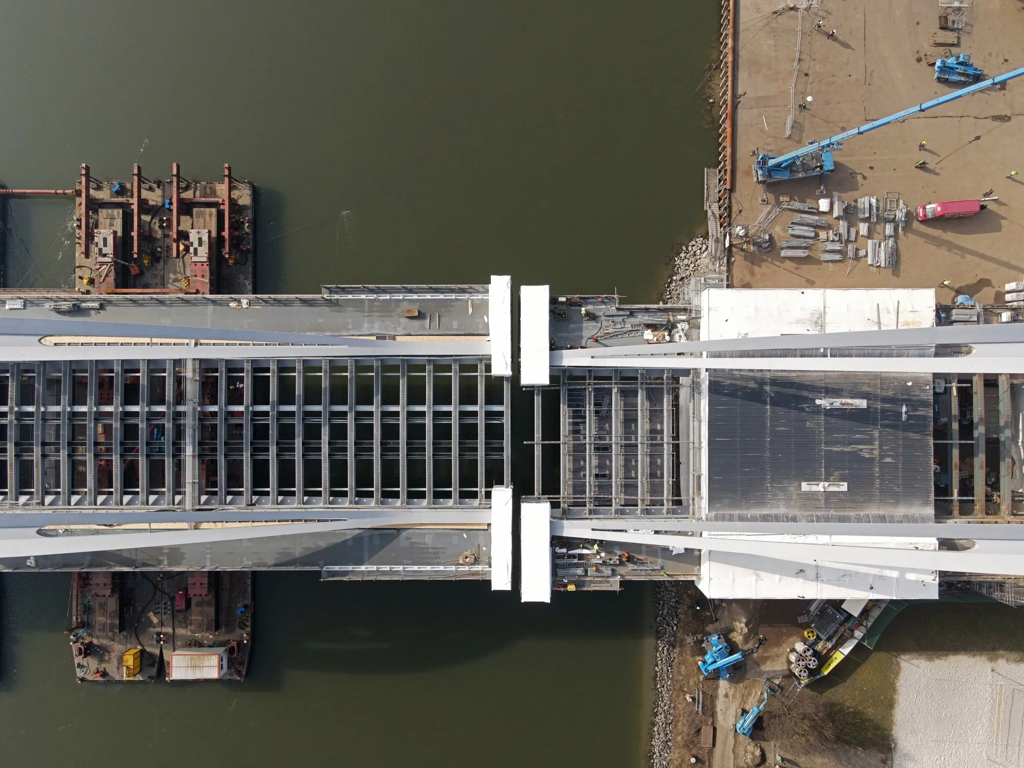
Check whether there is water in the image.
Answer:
Yes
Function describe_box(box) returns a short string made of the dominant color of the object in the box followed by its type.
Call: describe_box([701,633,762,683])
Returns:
blue work vehicle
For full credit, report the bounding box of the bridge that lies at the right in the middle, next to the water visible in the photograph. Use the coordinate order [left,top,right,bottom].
[534,294,1024,593]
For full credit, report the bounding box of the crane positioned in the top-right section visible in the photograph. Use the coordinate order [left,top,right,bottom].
[748,72,1024,203]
